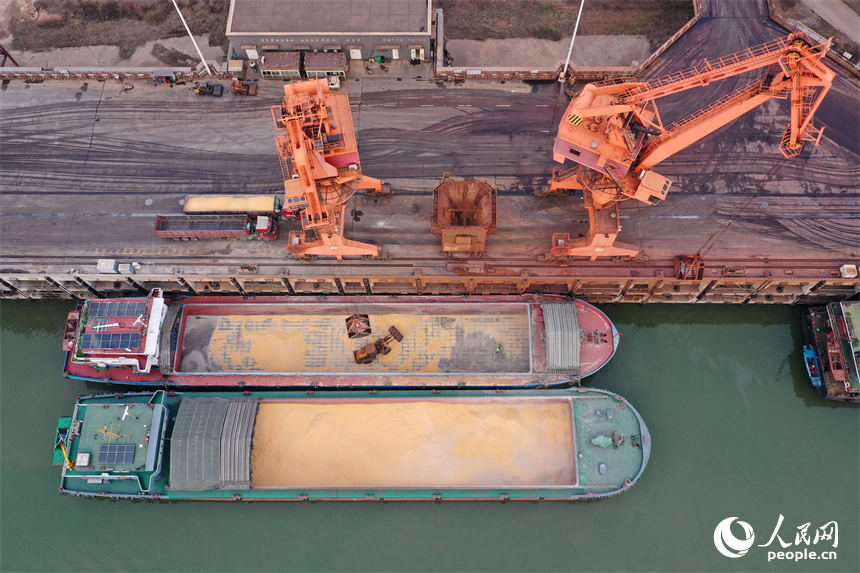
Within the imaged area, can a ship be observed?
Yes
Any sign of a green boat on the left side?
Yes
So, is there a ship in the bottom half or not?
Yes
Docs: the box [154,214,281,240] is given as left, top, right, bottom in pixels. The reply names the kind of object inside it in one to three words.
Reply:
truck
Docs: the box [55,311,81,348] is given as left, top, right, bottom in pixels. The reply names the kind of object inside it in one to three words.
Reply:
boat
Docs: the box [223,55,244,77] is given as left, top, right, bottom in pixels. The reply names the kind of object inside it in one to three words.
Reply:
shed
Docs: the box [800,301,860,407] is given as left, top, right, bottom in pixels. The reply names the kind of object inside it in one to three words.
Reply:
ship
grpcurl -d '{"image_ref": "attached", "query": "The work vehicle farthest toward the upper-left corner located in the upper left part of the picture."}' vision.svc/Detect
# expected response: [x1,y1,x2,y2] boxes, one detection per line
[193,83,229,100]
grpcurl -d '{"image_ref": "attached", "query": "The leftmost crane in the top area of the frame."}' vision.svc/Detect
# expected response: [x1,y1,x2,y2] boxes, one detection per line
[264,77,391,261]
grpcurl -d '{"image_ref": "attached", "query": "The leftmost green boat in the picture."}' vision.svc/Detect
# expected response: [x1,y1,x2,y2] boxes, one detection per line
[45,416,76,467]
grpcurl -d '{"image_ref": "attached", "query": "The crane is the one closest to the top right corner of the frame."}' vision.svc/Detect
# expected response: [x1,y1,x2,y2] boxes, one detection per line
[538,23,842,263]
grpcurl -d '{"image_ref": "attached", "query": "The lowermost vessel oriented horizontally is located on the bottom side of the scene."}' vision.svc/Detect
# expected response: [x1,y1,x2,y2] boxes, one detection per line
[51,387,653,501]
